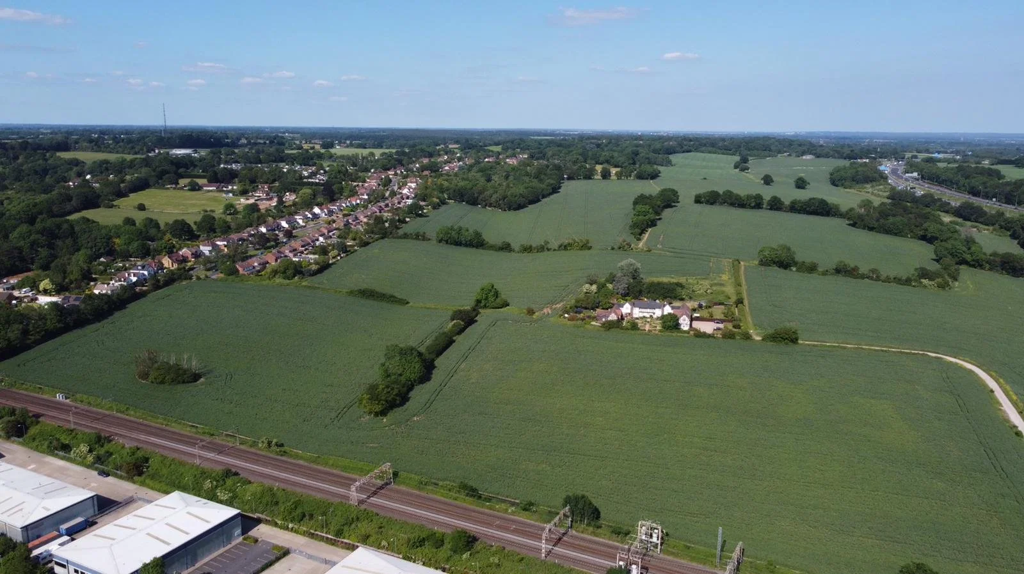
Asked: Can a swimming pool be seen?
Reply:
No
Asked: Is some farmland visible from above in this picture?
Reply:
Yes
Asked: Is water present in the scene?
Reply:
No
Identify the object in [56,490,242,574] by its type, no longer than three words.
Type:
building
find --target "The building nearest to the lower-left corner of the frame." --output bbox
[0,448,98,541]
